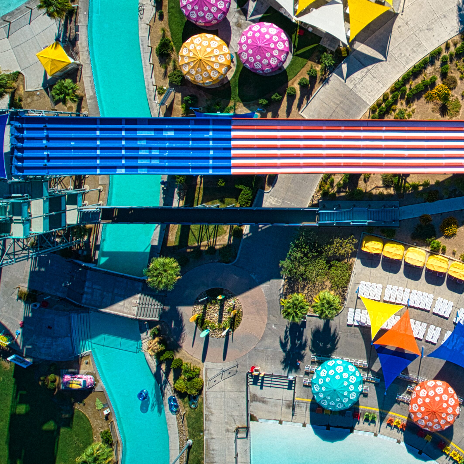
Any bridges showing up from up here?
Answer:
Yes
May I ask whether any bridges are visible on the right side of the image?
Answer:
No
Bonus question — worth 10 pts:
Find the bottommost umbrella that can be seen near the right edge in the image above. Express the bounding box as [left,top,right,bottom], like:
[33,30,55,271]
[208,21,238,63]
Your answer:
[410,380,461,430]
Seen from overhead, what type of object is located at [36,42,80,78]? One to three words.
tent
